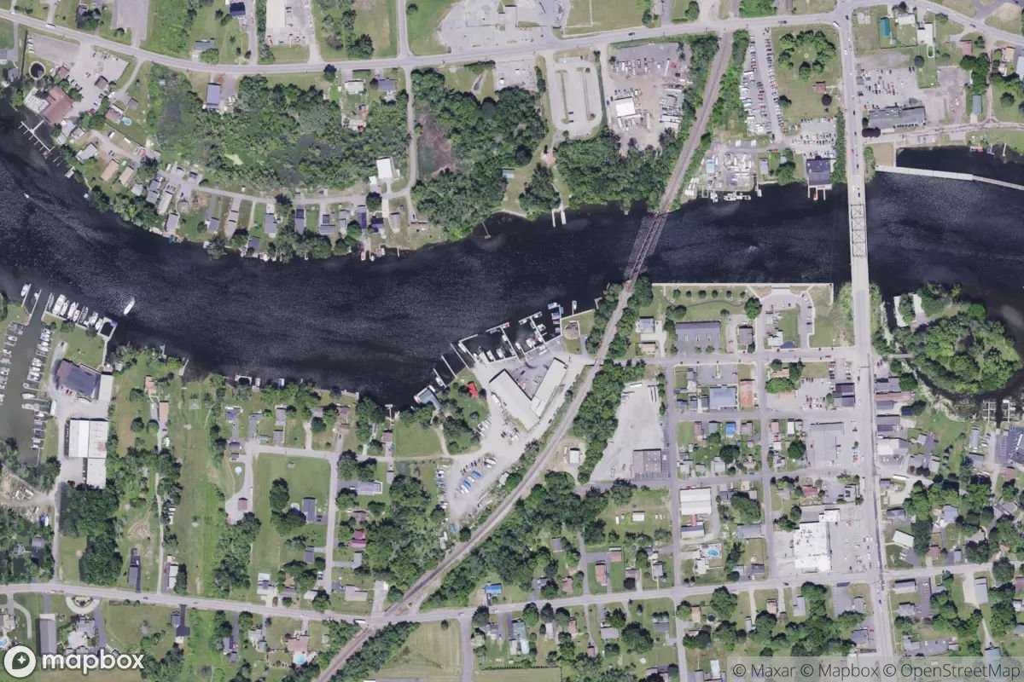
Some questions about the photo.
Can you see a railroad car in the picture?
No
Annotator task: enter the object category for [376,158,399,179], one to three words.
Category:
barn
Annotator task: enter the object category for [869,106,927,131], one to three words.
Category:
building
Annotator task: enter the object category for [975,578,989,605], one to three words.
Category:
house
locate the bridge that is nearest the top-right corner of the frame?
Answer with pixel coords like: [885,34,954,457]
[848,179,871,285]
